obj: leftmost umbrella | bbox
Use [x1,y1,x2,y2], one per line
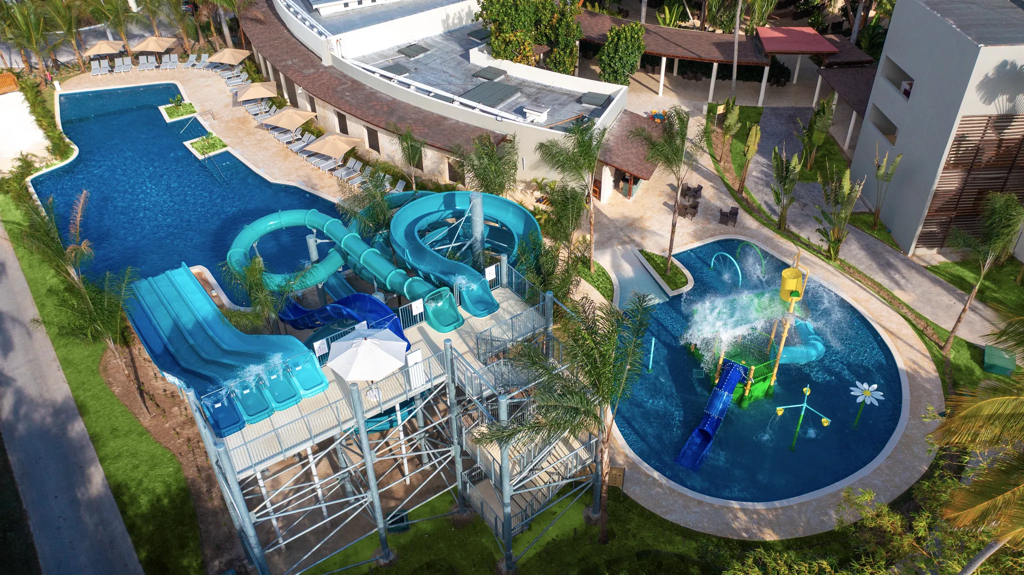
[84,41,129,73]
